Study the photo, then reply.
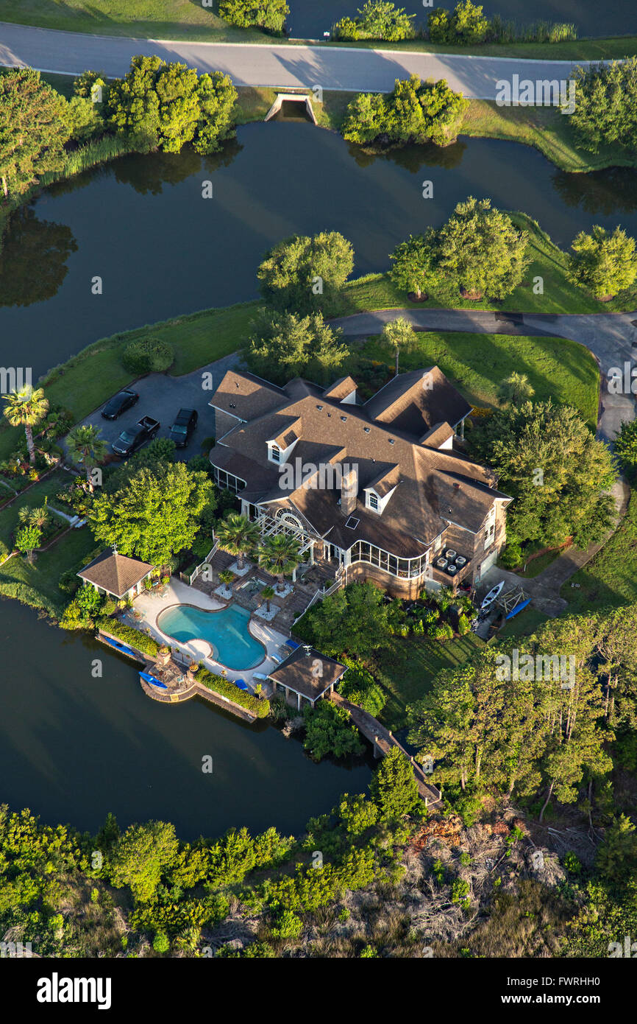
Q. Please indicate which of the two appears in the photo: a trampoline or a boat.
boat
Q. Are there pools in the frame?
Yes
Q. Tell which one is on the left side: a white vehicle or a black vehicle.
black vehicle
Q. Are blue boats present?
Yes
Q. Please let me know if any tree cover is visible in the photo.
Yes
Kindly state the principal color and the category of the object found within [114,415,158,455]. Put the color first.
black vehicle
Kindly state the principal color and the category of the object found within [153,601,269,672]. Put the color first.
blue swimming pool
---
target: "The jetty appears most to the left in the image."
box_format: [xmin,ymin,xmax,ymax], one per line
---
[98,625,262,724]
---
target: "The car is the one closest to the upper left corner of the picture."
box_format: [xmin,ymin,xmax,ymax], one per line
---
[101,389,138,420]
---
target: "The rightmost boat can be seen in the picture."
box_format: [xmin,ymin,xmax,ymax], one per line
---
[506,597,532,619]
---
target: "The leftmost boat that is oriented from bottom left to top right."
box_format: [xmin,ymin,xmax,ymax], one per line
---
[482,579,505,607]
